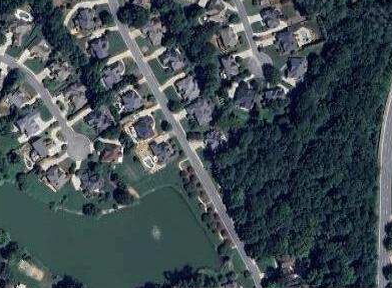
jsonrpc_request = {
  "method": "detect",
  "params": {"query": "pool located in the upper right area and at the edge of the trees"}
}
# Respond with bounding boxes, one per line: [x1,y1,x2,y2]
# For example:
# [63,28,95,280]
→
[293,22,316,48]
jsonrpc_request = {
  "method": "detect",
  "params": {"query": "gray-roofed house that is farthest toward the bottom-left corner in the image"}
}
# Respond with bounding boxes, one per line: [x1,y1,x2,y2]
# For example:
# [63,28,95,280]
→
[42,159,70,192]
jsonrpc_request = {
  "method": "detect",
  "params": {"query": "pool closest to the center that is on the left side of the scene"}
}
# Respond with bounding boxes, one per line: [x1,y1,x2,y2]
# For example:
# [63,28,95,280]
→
[142,153,156,170]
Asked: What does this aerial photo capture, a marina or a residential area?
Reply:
residential area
